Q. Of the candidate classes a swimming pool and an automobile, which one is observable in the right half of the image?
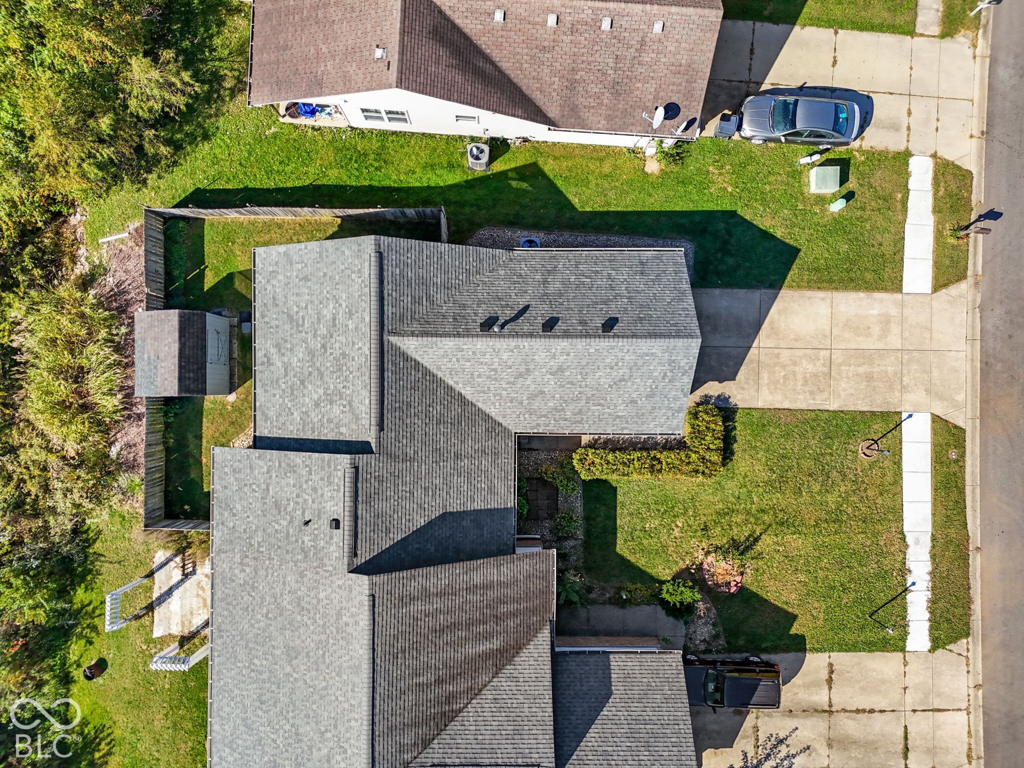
automobile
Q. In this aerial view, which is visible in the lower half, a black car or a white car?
black car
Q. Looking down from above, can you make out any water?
No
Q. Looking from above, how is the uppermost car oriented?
horizontally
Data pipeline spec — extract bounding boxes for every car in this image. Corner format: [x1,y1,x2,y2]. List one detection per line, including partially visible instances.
[737,85,859,147]
[684,654,786,717]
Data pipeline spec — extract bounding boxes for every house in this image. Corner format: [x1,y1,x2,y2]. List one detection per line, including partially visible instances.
[245,0,724,154]
[207,236,701,768]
